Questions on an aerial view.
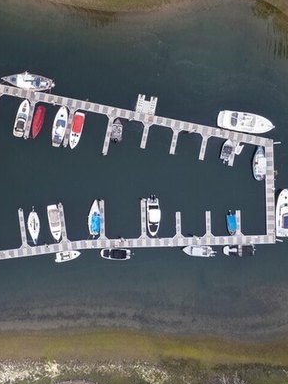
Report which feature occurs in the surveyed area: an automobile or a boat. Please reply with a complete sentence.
There is a boat in the scene.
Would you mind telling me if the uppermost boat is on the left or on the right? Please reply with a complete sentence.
The uppermost boat is on the left side of the image.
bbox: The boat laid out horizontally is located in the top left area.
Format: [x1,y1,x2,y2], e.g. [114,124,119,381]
[0,69,57,99]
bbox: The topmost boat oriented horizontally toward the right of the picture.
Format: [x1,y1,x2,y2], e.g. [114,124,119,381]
[212,111,280,142]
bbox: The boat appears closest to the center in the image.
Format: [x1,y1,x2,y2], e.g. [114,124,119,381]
[146,195,161,236]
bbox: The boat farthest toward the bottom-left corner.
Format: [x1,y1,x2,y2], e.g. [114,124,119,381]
[52,250,80,263]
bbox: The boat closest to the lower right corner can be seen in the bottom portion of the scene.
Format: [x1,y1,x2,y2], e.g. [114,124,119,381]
[224,244,257,257]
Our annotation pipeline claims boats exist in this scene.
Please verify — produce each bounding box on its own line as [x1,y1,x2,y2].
[0,69,57,99]
[12,100,32,140]
[146,195,161,236]
[27,209,41,244]
[227,210,237,235]
[234,144,243,155]
[111,118,123,146]
[31,105,46,138]
[212,111,280,142]
[224,244,257,257]
[46,204,64,243]
[183,240,217,258]
[274,189,288,240]
[89,200,106,238]
[50,106,71,150]
[220,139,235,165]
[52,250,80,263]
[101,243,133,260]
[66,111,86,149]
[254,146,287,181]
